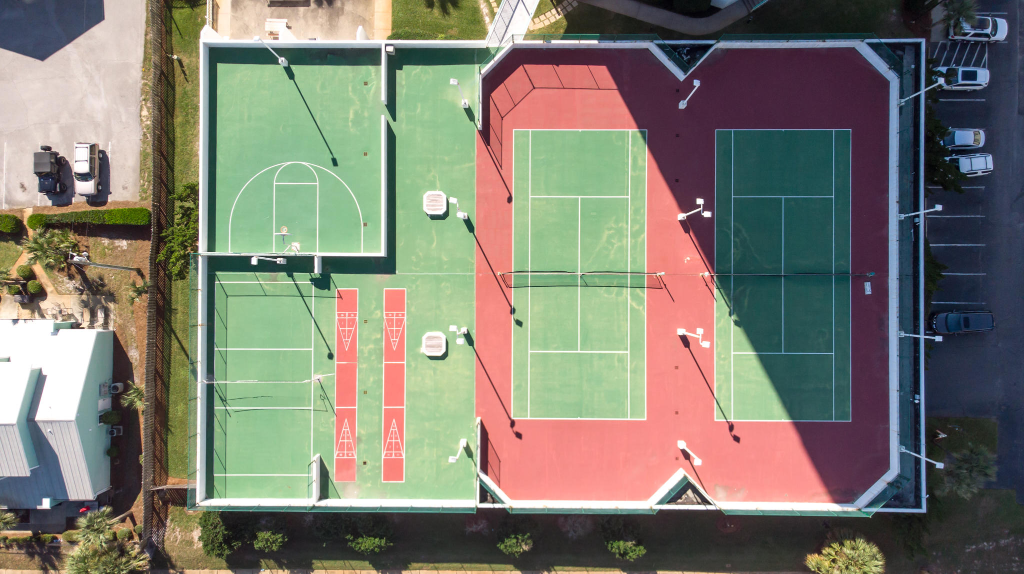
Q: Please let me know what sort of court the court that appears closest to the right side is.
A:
tennis court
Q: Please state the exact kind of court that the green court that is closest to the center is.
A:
tennis court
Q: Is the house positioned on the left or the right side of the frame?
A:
left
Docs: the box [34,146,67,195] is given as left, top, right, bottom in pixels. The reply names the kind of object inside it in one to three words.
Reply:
vehicle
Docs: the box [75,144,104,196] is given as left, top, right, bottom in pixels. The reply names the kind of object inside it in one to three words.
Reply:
car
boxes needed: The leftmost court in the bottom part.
[214,282,314,476]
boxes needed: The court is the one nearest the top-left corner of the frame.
[229,161,363,252]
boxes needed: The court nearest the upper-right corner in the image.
[716,130,851,421]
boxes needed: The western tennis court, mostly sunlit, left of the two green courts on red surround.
[512,130,647,420]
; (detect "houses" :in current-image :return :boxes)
[0,320,113,509]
